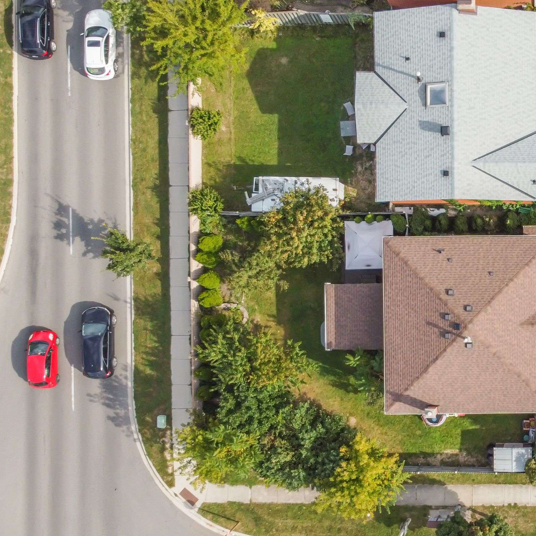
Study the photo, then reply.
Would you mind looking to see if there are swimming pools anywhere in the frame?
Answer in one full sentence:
No, there's no swimming pool here.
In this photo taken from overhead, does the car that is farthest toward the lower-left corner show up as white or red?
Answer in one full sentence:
The car that is farthest toward the lower-left corner is red.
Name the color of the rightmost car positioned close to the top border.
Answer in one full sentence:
From above, the rightmost car positioned close to the top border appears white.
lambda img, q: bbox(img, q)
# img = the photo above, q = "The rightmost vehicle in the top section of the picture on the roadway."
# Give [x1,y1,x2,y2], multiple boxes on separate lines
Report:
[82,13,118,81]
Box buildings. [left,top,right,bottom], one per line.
[493,445,531,473]
[324,225,536,415]
[354,0,536,205]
